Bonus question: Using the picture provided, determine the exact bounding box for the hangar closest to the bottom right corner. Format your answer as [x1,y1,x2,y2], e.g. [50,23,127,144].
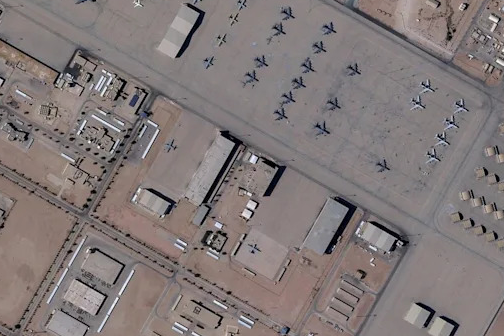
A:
[429,315,455,336]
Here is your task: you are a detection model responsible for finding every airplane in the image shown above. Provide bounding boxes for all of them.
[375,159,388,172]
[280,6,293,18]
[203,55,213,68]
[301,57,313,69]
[272,22,285,34]
[244,69,257,82]
[216,34,226,46]
[425,149,438,161]
[274,106,287,118]
[435,132,448,145]
[409,96,422,108]
[314,121,327,134]
[290,75,304,88]
[420,80,433,92]
[453,99,467,112]
[321,21,334,34]
[229,13,238,25]
[326,97,339,109]
[249,244,260,253]
[443,115,456,128]
[346,62,359,74]
[311,39,324,52]
[132,0,143,8]
[281,90,293,102]
[165,140,174,152]
[253,53,266,66]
